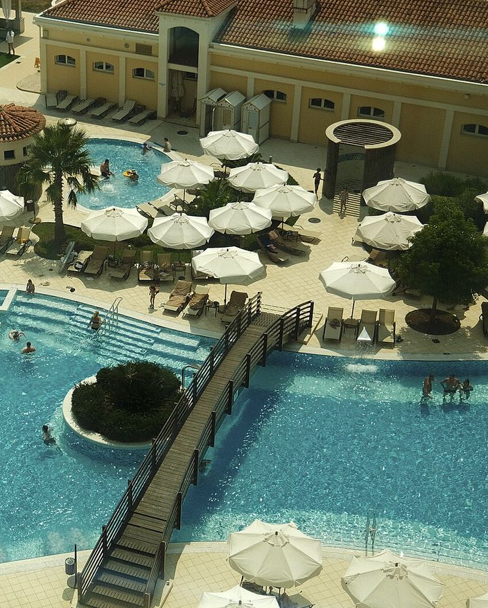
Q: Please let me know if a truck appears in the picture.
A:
No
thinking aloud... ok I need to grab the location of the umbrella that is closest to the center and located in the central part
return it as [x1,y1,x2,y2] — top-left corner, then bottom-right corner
[189,249,263,312]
